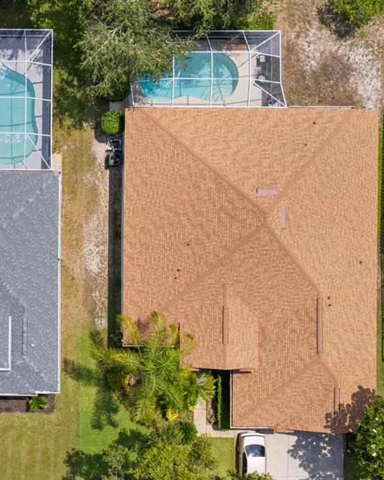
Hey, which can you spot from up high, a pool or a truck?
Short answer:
pool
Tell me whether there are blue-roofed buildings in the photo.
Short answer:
No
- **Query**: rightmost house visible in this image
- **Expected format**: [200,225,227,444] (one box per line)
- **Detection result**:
[121,106,381,435]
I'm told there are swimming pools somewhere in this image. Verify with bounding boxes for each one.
[133,45,243,105]
[0,56,41,167]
